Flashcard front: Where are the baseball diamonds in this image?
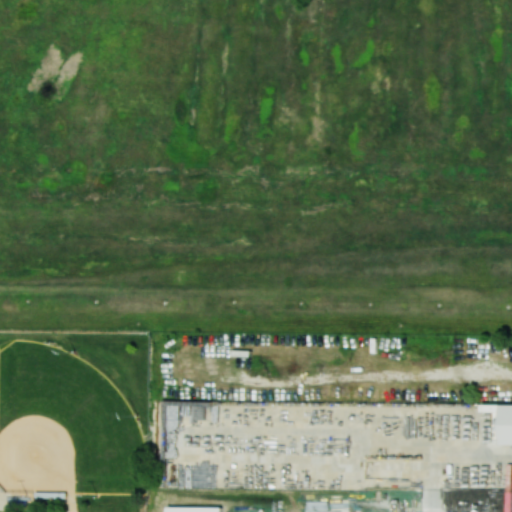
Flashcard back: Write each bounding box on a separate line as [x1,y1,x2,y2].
[0,342,142,512]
